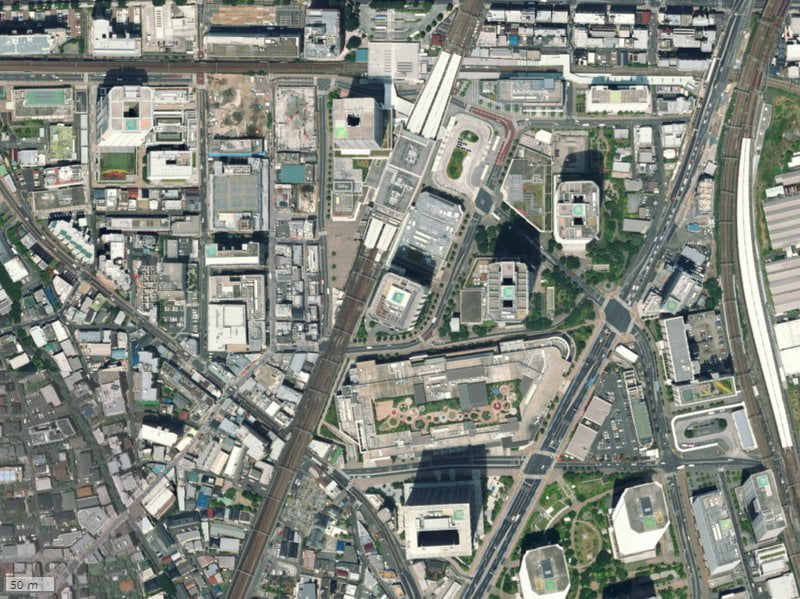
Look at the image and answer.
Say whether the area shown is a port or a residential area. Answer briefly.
residential area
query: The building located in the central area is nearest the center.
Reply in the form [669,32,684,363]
[366,272,427,339]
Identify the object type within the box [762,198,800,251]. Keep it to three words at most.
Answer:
building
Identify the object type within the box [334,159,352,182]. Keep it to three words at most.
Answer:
building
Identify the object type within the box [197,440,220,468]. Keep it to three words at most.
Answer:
house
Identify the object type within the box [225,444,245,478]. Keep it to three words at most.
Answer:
shed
